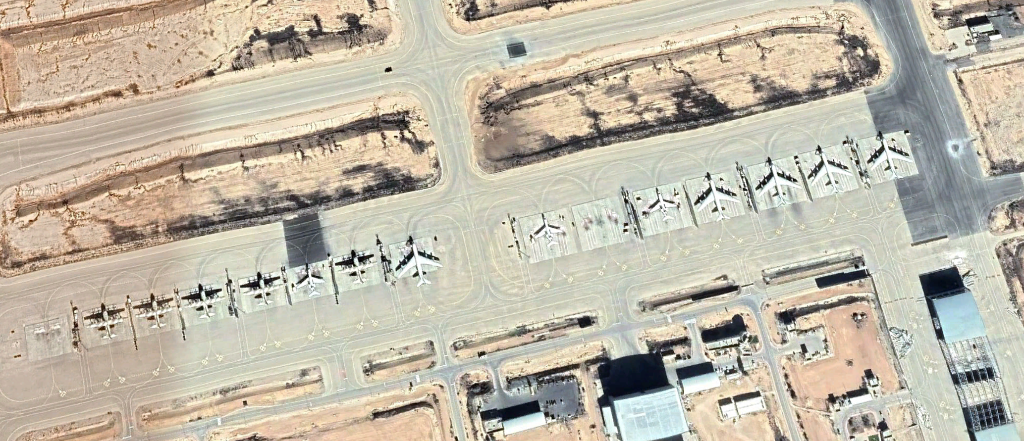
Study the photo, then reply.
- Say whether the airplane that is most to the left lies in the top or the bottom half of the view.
bottom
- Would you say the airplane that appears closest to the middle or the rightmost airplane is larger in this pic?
the rightmost airplane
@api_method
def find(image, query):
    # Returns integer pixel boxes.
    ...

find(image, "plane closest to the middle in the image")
[535,220,563,247]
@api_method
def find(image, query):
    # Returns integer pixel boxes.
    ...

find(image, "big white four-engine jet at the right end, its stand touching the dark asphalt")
[876,139,912,181]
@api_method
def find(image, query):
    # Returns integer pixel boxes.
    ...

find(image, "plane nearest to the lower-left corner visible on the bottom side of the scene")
[87,311,128,340]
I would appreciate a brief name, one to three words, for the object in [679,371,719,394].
hangar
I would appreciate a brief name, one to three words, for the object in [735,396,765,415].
shed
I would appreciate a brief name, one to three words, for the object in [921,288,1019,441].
hangar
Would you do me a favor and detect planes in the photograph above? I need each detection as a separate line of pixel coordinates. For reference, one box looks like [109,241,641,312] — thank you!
[137,301,177,328]
[700,180,739,222]
[814,152,851,194]
[761,163,800,206]
[244,280,284,306]
[297,270,326,296]
[651,193,677,221]
[339,257,378,284]
[876,139,912,181]
[185,291,226,319]
[87,311,128,340]
[535,220,563,247]
[400,244,443,287]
